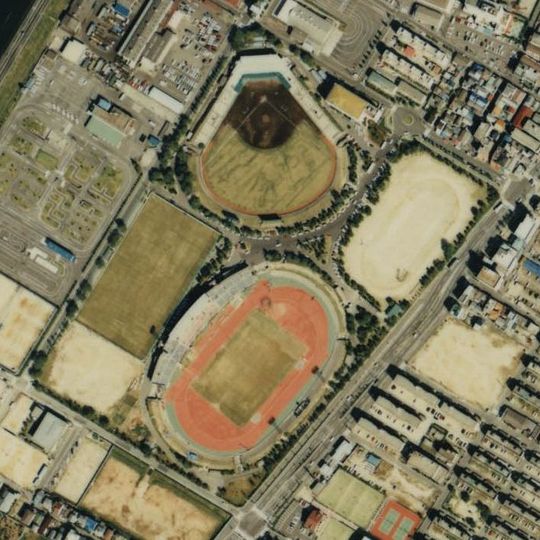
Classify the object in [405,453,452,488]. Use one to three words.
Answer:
building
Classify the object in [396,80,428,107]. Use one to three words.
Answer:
building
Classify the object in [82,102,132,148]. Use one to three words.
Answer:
shed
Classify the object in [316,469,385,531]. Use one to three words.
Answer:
sports field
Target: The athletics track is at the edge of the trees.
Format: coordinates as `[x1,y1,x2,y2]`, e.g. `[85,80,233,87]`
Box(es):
[164,276,335,458]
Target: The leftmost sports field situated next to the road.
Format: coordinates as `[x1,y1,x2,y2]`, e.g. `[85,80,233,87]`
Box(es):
[43,322,139,411]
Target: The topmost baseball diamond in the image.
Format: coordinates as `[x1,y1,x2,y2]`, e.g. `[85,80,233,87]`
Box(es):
[201,75,337,217]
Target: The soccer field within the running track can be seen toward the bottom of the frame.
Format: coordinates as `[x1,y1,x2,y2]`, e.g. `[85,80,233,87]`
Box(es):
[192,310,306,426]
